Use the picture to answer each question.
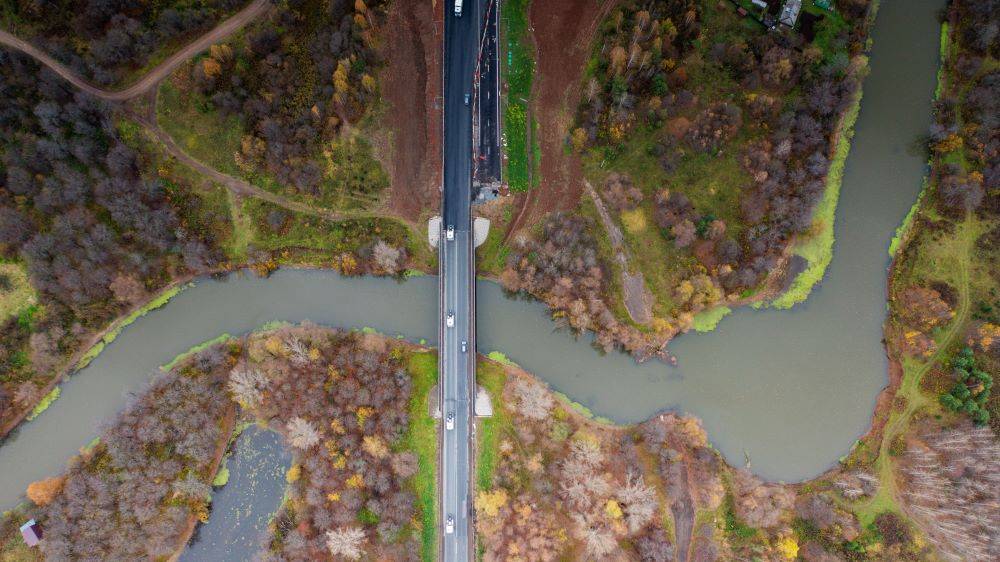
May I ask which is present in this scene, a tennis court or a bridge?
bridge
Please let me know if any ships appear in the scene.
No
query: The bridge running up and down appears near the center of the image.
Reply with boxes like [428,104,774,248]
[439,221,476,400]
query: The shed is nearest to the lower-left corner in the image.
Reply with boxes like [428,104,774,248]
[17,521,45,546]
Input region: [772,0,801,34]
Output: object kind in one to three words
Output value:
house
